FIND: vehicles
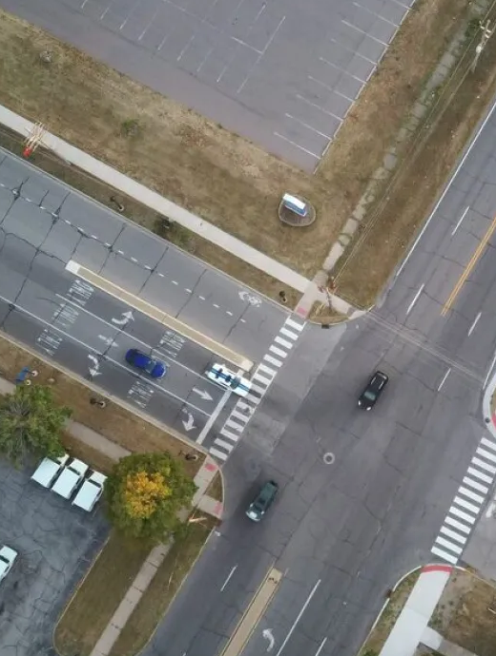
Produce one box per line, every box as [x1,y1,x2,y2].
[30,447,75,490]
[124,347,168,377]
[0,543,21,585]
[50,456,94,500]
[359,369,390,412]
[71,469,113,512]
[246,479,282,523]
[204,363,252,397]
